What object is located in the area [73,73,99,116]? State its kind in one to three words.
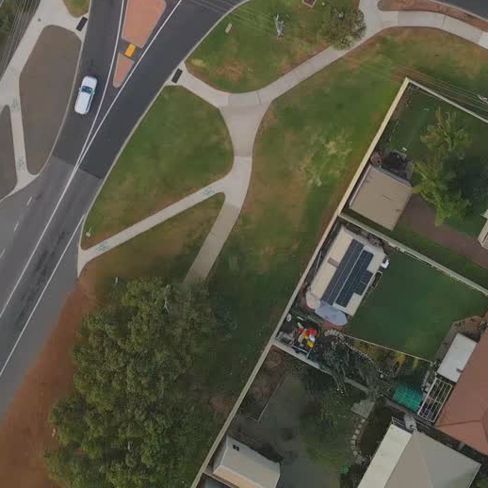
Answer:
car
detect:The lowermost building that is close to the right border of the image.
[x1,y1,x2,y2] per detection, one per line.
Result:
[380,426,482,488]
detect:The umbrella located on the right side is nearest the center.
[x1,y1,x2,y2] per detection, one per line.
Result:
[305,292,321,308]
